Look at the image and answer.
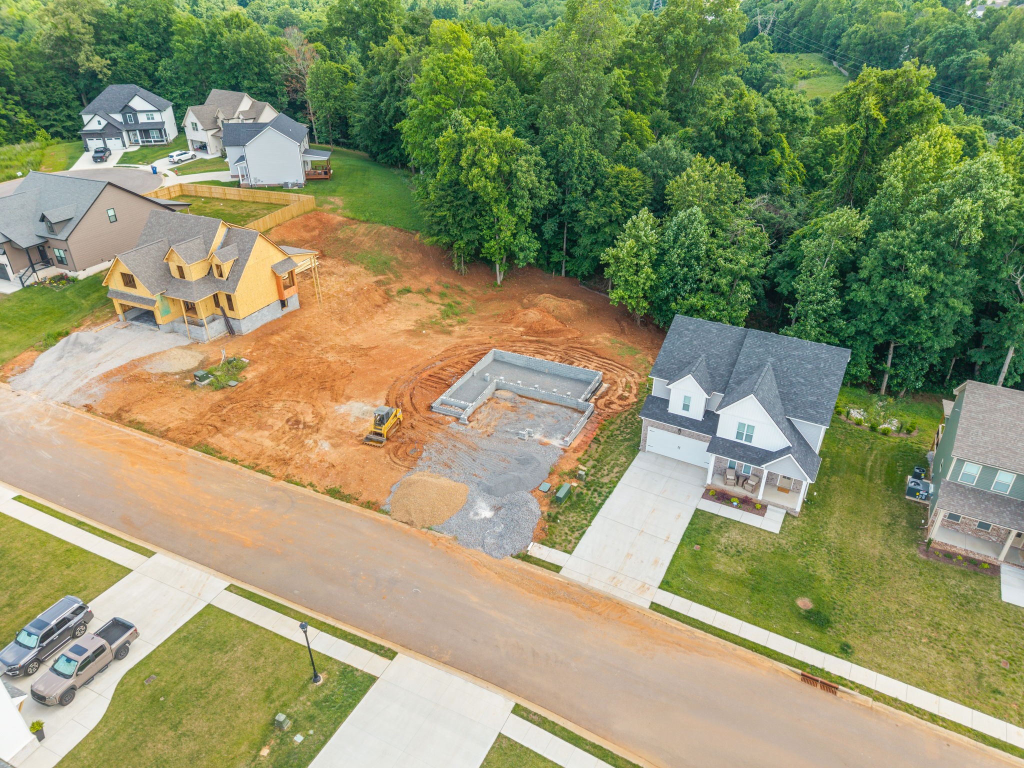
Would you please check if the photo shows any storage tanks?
No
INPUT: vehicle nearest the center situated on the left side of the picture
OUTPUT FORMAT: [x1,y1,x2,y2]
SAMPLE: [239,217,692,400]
[363,407,402,445]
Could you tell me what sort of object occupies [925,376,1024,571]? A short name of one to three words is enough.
building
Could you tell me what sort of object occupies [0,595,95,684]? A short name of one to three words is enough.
car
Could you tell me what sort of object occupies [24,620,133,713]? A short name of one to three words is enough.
truck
